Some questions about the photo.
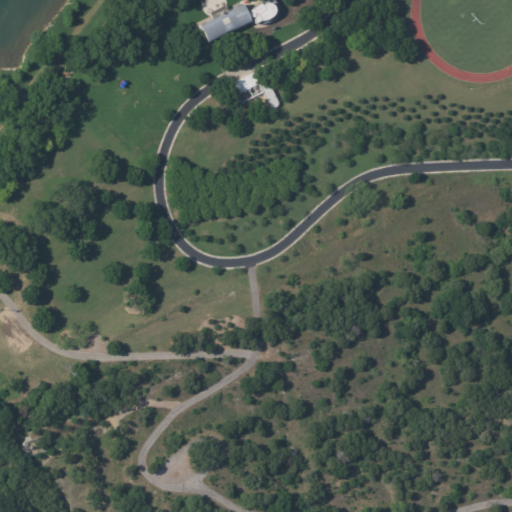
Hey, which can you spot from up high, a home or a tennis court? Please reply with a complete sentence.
Of the two, only a home appears.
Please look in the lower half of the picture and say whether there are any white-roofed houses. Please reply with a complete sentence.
No, no white-roofed house can be made out in the lower half of the picture.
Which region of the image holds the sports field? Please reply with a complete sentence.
The sports field is located in the top right region of the scene.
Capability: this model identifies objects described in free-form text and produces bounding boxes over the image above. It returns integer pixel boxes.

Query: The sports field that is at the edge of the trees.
[420,0,512,73]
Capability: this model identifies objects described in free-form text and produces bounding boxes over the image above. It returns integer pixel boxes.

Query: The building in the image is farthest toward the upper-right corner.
[252,2,279,24]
